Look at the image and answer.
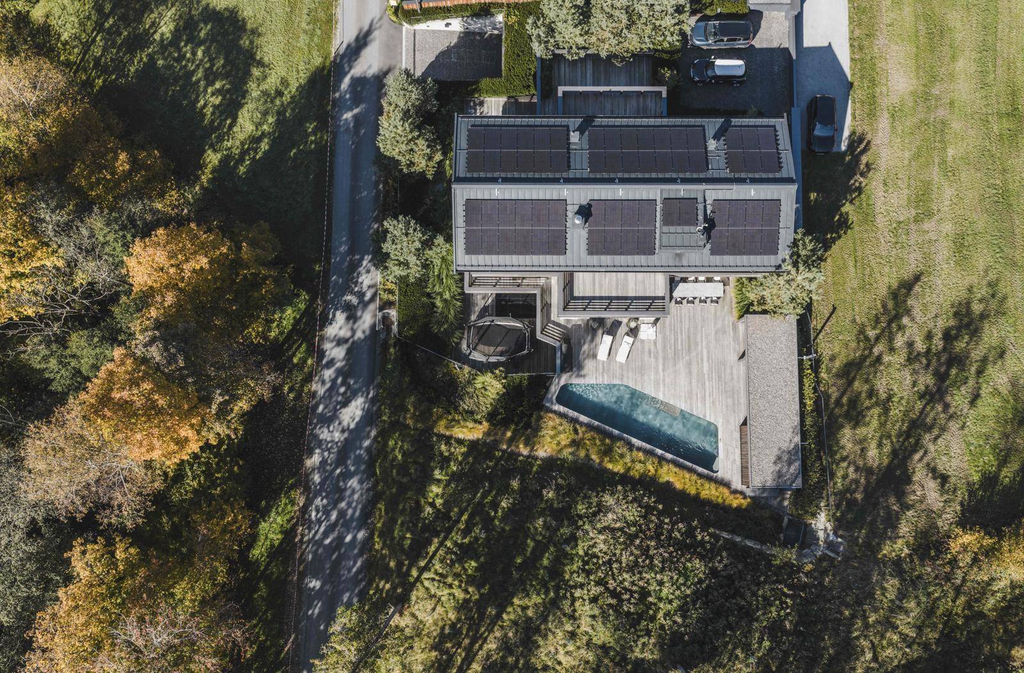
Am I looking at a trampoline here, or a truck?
trampoline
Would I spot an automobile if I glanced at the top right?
Yes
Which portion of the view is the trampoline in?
center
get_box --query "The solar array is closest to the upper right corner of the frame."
[725,127,781,173]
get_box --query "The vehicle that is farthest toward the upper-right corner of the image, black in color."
[805,96,837,155]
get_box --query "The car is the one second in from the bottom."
[688,58,746,88]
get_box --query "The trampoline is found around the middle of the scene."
[465,318,532,362]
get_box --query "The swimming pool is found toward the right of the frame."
[557,384,717,473]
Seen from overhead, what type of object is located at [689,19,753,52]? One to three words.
car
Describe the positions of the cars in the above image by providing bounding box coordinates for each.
[689,19,753,52]
[688,58,746,88]
[805,96,837,155]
